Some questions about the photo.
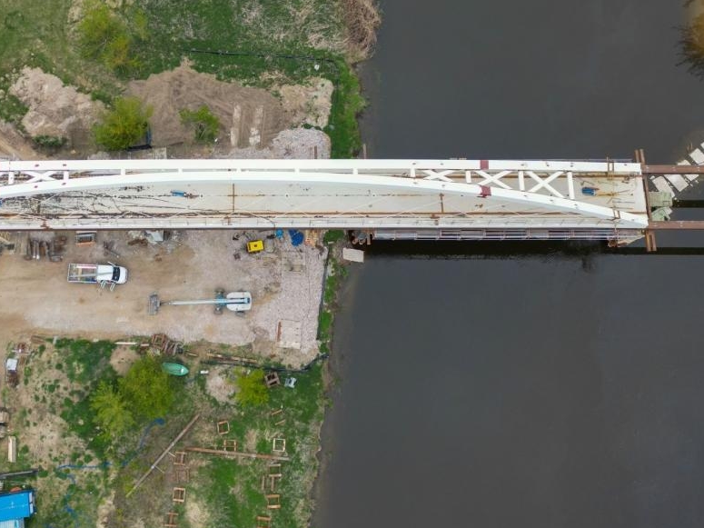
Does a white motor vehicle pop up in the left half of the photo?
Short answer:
Yes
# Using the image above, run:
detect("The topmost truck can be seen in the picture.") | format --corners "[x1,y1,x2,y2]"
[67,261,129,292]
